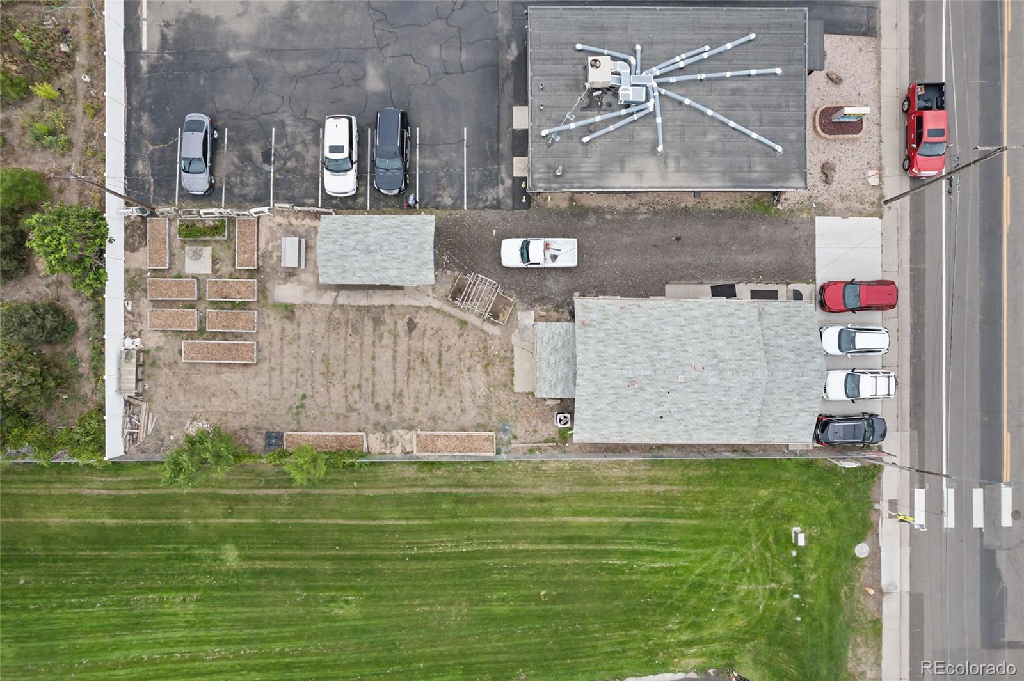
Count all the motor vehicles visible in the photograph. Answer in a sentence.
There are 9 motor vehicles in the image.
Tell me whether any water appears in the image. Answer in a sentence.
No, the picture contains no water.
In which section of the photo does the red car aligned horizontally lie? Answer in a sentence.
You can find the red car aligned horizontally in the right area of the picture.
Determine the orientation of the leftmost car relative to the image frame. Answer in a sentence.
In this picture, the leftmost car is oriented up and down.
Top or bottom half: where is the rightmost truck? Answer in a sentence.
It is in the top half that the rightmost truck appears.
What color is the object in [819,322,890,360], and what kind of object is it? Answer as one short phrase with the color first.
white car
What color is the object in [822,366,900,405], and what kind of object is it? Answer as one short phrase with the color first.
white car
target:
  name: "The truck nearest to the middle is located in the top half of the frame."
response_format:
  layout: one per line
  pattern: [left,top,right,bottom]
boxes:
[501,233,578,271]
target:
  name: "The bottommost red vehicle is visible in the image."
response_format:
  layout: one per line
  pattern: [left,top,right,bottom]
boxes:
[818,276,898,316]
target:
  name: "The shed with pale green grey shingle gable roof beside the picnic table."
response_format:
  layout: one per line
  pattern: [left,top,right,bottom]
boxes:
[315,211,436,287]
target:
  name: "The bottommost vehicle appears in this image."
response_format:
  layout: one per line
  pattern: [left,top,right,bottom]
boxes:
[814,411,889,451]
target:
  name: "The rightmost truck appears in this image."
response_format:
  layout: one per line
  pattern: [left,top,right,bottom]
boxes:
[898,82,955,179]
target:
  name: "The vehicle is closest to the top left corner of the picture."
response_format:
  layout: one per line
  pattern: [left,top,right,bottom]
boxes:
[174,113,216,196]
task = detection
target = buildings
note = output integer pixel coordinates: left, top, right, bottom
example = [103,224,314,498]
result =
[567,295,824,445]
[523,7,825,194]
[315,211,436,287]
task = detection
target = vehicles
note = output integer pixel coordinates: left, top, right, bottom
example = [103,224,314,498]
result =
[369,105,409,196]
[501,233,578,271]
[318,115,359,197]
[822,366,900,405]
[898,82,955,179]
[818,276,898,316]
[819,322,890,360]
[814,411,889,451]
[174,113,216,196]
